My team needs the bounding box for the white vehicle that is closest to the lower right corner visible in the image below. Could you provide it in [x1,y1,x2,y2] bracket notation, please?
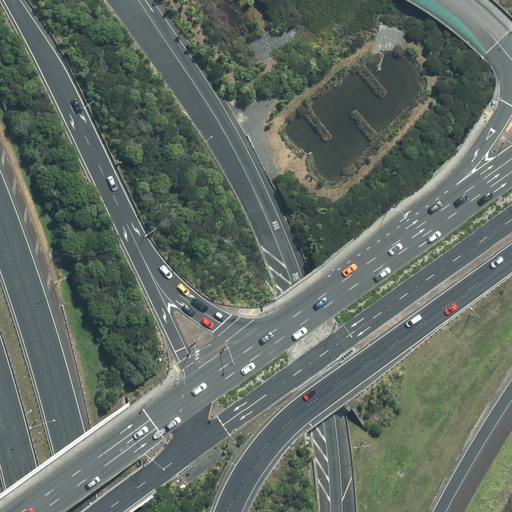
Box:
[406,314,424,328]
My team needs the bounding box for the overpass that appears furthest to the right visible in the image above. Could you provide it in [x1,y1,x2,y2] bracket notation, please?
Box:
[402,0,512,60]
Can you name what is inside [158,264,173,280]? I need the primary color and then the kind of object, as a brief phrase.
white car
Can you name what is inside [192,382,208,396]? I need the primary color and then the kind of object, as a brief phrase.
white vehicle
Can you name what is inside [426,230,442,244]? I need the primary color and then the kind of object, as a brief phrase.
white vehicle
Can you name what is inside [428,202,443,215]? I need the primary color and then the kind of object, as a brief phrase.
gray vehicle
